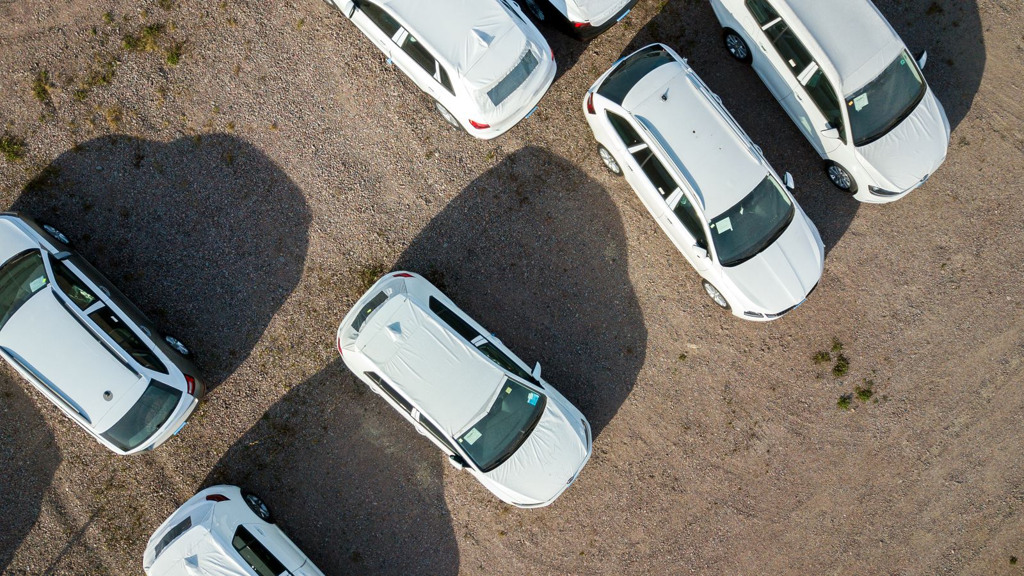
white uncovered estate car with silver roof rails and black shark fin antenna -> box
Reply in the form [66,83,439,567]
[581,44,829,321]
